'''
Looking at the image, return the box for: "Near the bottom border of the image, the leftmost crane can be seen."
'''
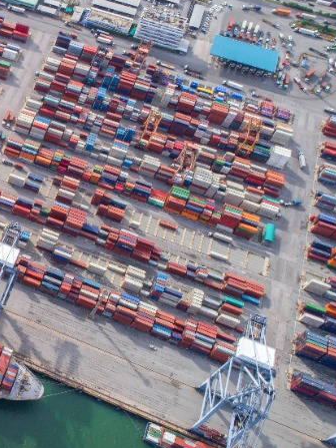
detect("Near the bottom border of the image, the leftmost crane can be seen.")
[185,313,282,448]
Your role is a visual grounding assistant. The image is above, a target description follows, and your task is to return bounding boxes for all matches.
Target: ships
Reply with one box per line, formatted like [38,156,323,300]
[0,364,44,401]
[141,421,171,448]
